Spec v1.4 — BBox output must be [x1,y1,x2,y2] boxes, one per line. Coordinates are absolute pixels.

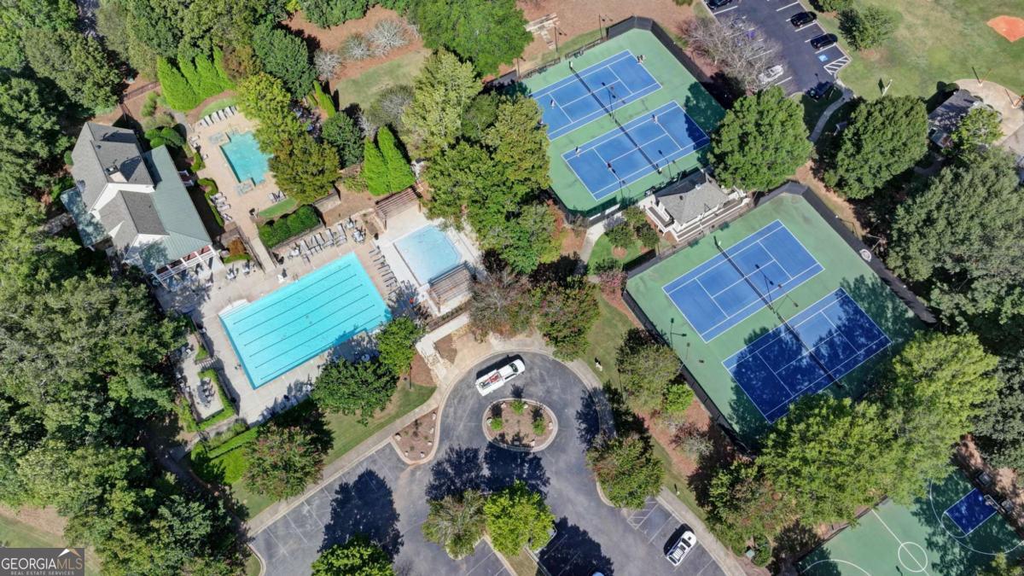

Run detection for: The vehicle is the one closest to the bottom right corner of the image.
[666,529,699,565]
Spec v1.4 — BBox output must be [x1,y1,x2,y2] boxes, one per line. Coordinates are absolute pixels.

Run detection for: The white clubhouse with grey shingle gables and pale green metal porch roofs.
[65,123,225,292]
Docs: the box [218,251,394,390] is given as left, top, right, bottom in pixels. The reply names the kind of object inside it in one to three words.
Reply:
swimming pool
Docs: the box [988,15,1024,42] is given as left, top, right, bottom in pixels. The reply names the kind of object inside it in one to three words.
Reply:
baseball field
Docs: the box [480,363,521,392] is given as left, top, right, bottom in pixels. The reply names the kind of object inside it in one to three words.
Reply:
truck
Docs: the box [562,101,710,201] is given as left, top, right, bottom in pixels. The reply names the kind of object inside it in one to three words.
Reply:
tennis court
